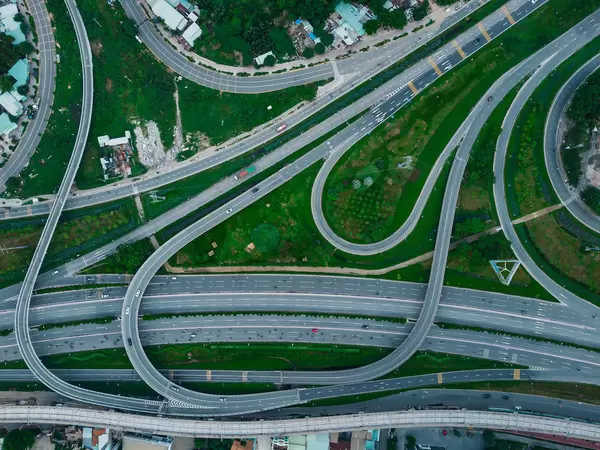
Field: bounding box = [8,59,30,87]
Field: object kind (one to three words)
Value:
house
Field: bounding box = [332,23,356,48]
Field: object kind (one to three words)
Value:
house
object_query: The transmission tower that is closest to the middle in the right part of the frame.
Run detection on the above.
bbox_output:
[394,154,410,170]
